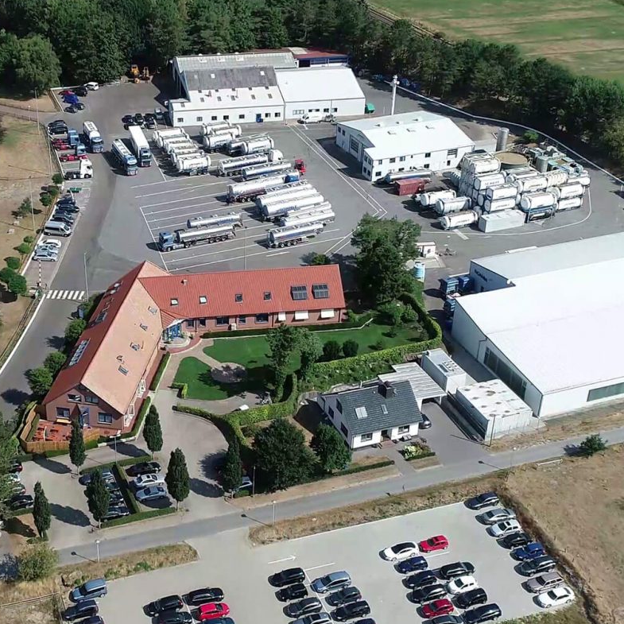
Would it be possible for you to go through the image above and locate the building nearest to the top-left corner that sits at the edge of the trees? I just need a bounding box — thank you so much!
[170,49,295,126]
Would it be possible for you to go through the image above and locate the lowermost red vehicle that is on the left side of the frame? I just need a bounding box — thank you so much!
[197,603,232,622]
